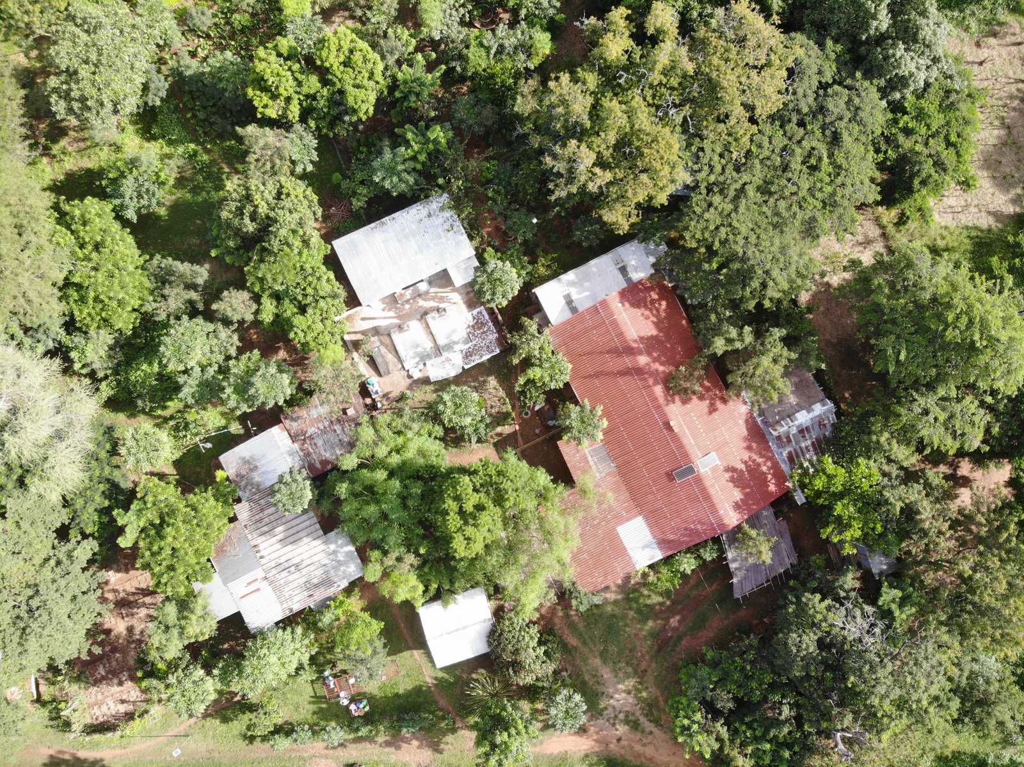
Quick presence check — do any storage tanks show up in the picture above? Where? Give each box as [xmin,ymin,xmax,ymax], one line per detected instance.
[426,305,472,356]
[390,319,435,370]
